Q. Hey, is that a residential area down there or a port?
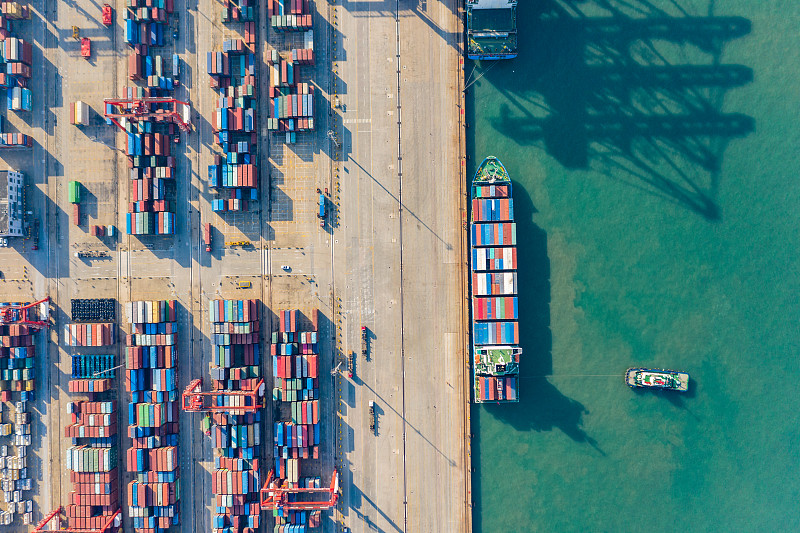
port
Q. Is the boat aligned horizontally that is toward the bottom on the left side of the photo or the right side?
right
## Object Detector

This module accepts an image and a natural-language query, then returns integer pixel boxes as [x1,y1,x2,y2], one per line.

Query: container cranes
[184,376,265,413]
[33,505,120,533]
[0,295,48,328]
[260,467,338,511]
[105,95,191,134]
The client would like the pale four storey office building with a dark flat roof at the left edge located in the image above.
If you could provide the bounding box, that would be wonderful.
[0,170,28,236]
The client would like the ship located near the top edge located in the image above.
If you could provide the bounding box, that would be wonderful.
[468,0,517,60]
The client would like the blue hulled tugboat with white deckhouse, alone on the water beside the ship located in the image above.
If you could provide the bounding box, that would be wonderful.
[625,366,687,389]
